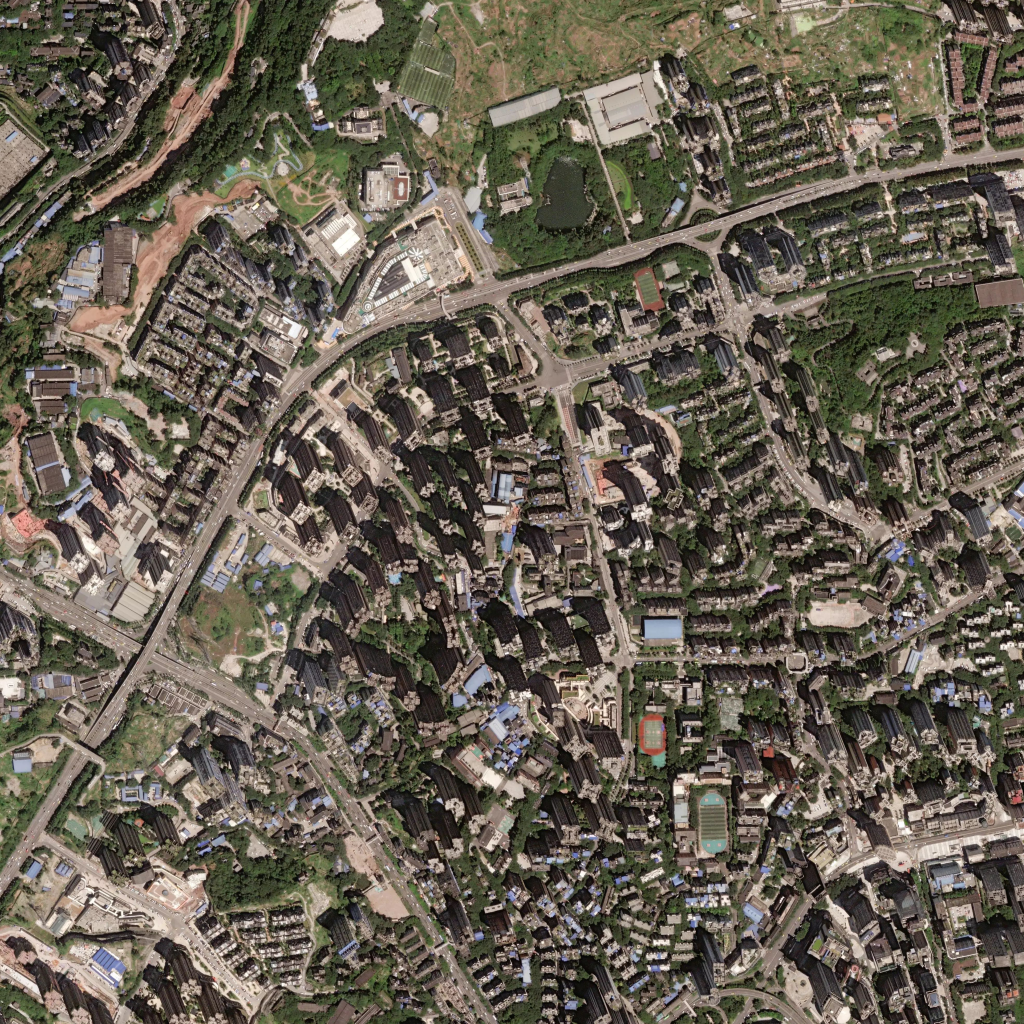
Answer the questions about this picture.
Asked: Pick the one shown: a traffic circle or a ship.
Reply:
traffic circle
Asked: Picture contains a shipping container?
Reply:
No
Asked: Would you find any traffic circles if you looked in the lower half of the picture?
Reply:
No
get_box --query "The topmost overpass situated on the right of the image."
[595,185,814,269]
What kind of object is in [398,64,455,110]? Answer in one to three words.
soccer field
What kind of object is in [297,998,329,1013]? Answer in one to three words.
house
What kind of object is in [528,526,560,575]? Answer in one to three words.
building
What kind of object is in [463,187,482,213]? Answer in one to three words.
shed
